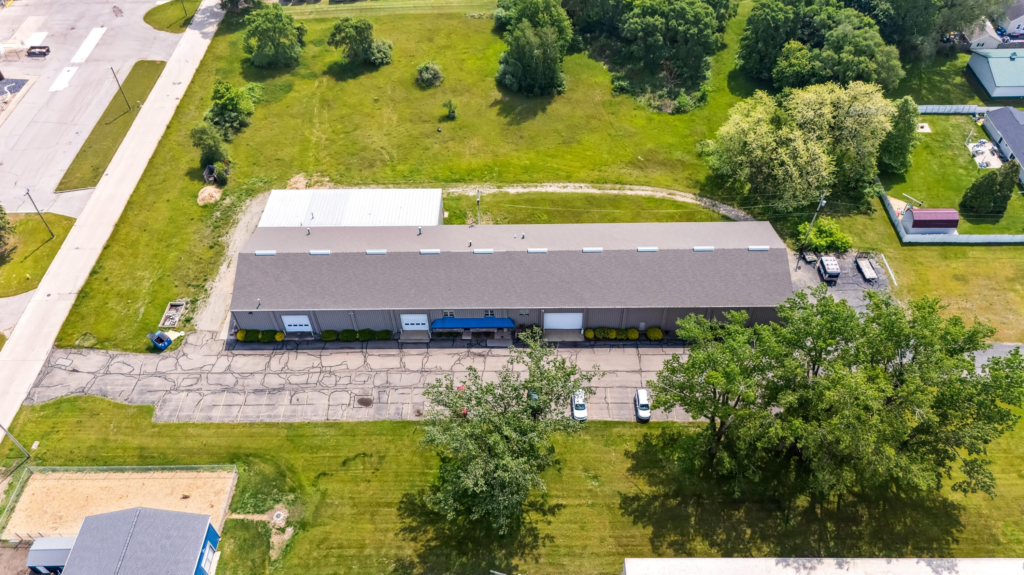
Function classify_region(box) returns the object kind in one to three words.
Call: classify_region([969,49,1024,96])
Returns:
barn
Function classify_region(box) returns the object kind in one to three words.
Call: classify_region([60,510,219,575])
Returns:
building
